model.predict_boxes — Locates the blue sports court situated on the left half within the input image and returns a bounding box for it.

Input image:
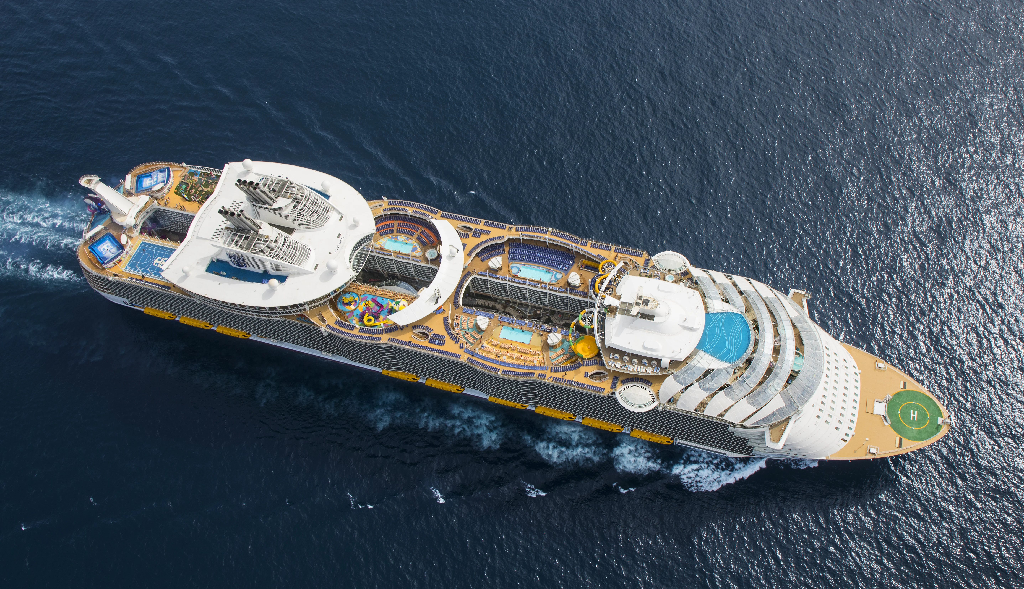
[107,229,183,280]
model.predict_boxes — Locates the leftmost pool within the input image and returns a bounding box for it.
[335,290,361,314]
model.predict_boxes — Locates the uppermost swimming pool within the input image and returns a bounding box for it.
[375,235,423,256]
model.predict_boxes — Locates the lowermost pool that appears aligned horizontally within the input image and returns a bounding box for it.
[492,324,543,347]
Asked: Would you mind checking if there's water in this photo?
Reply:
Yes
